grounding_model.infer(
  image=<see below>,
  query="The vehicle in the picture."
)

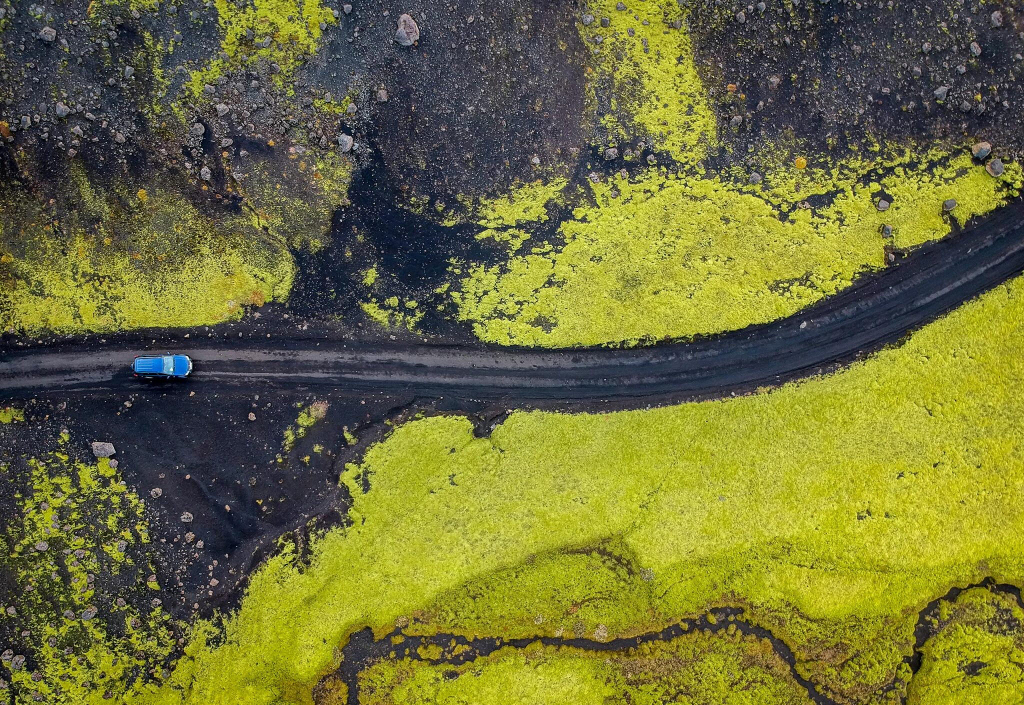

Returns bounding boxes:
[130,352,193,379]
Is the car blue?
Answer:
Yes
